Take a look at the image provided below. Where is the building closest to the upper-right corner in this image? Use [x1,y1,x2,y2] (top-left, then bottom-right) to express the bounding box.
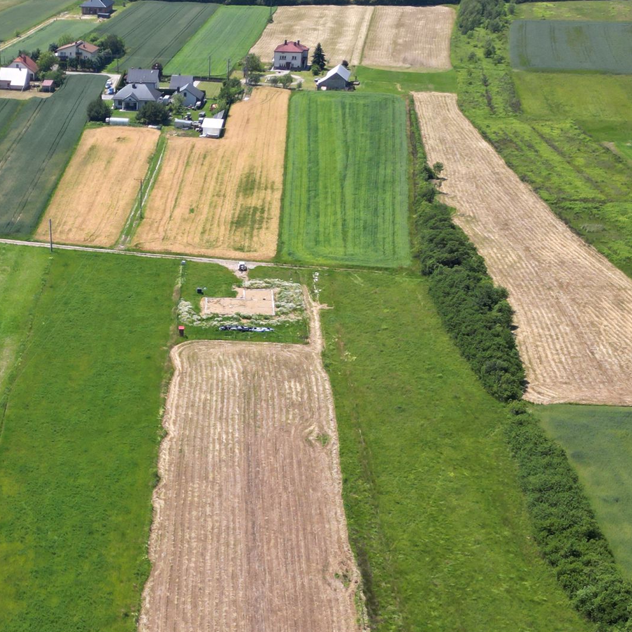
[317,63,353,92]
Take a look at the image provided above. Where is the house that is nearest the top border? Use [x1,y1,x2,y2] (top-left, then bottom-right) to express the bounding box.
[80,0,112,14]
